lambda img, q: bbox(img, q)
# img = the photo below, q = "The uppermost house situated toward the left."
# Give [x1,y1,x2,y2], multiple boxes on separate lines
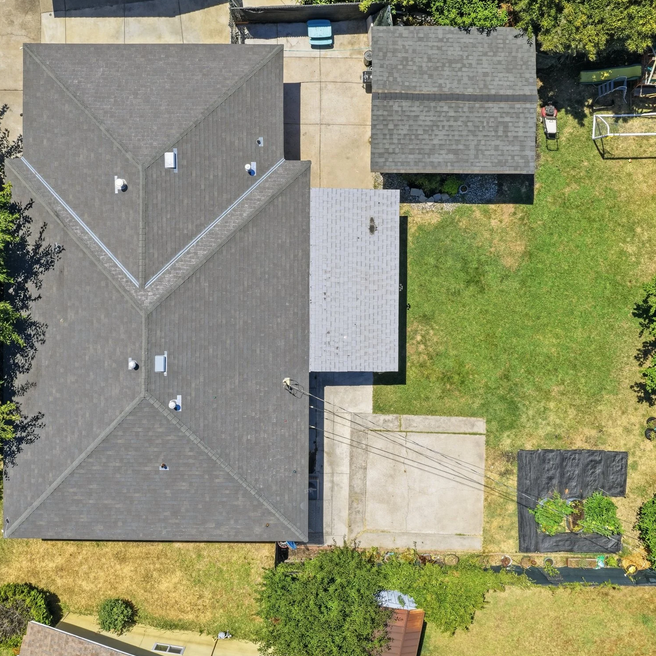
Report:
[0,43,312,542]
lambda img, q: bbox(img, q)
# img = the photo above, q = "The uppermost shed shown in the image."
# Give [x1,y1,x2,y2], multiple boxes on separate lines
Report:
[371,26,540,175]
